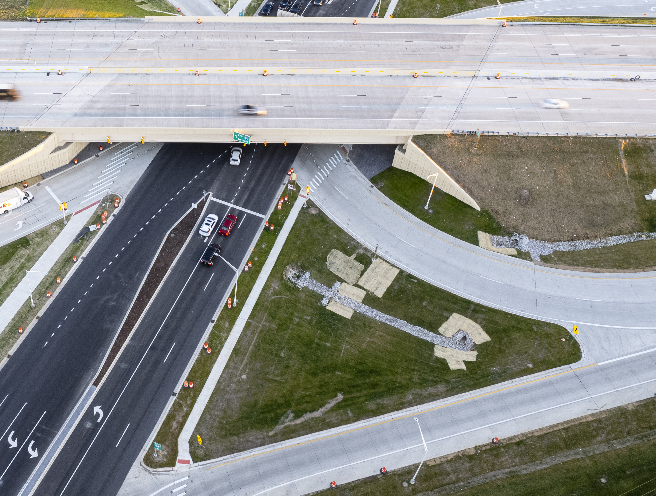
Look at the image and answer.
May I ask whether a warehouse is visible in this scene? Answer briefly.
No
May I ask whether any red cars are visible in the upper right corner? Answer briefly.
No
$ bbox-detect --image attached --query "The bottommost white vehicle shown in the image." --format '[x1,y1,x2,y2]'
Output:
[199,215,219,237]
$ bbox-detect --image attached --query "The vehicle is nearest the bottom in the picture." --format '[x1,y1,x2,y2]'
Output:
[200,244,221,269]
